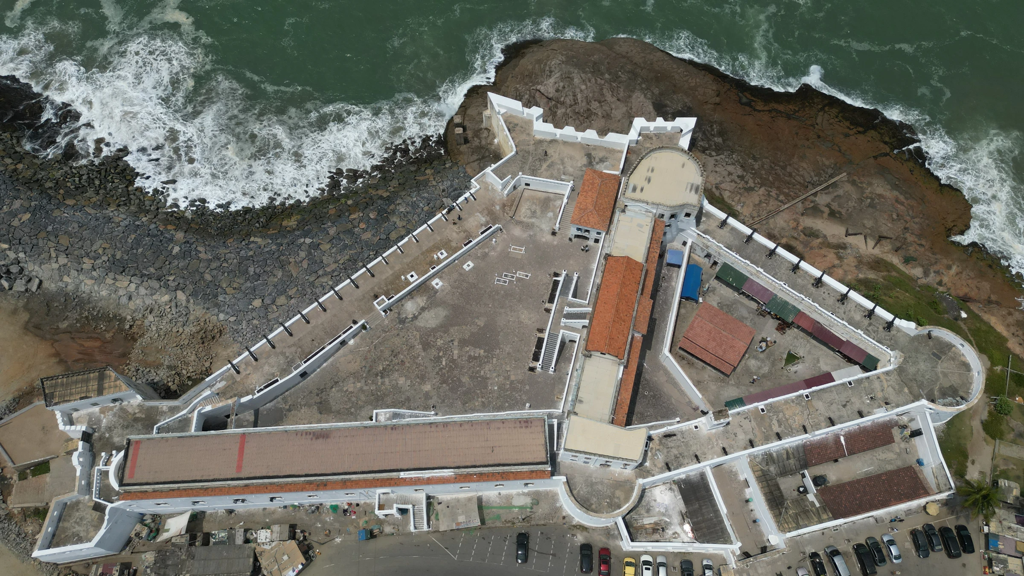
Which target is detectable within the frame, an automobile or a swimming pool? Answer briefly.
automobile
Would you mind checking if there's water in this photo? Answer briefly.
Yes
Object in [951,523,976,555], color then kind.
black car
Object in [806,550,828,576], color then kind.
black car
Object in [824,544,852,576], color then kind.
gray car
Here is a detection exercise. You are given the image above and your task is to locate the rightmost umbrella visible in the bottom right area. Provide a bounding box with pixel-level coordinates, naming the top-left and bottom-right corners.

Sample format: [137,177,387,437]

[923,501,940,518]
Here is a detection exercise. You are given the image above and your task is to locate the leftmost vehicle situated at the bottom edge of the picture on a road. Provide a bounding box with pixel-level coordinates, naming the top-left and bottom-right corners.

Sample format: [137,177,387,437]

[515,532,529,564]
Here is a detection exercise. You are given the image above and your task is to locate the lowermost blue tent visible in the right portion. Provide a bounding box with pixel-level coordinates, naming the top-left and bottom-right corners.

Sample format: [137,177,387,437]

[682,264,703,306]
